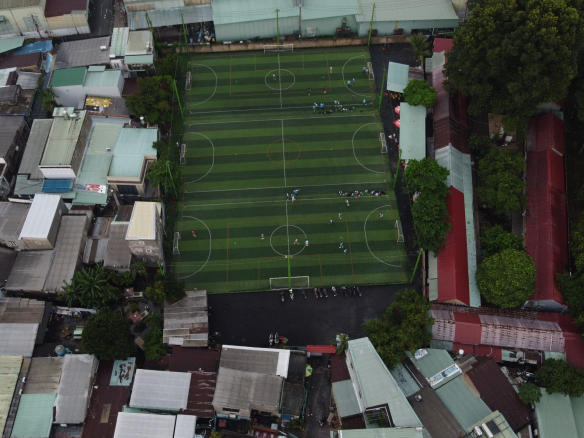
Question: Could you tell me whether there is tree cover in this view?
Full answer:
Yes, some tree cover is visible.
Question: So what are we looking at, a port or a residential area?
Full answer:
What you see here is a residential area.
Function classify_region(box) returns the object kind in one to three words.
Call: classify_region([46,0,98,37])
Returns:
building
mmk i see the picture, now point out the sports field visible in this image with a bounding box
[171,44,412,294]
